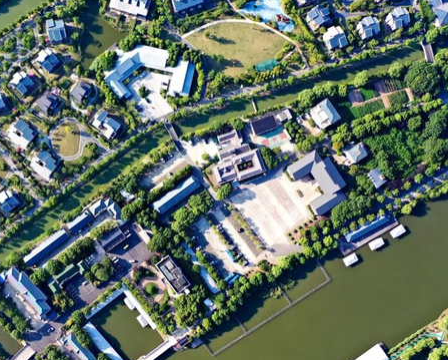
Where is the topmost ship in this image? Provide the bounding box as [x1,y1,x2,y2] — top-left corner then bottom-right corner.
[274,11,293,27]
